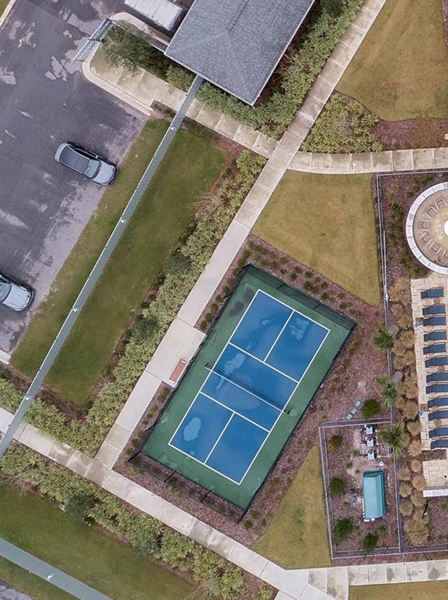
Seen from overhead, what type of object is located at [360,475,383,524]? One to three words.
shed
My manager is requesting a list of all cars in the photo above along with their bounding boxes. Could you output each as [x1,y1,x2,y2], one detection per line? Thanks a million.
[0,270,33,311]
[47,141,116,188]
